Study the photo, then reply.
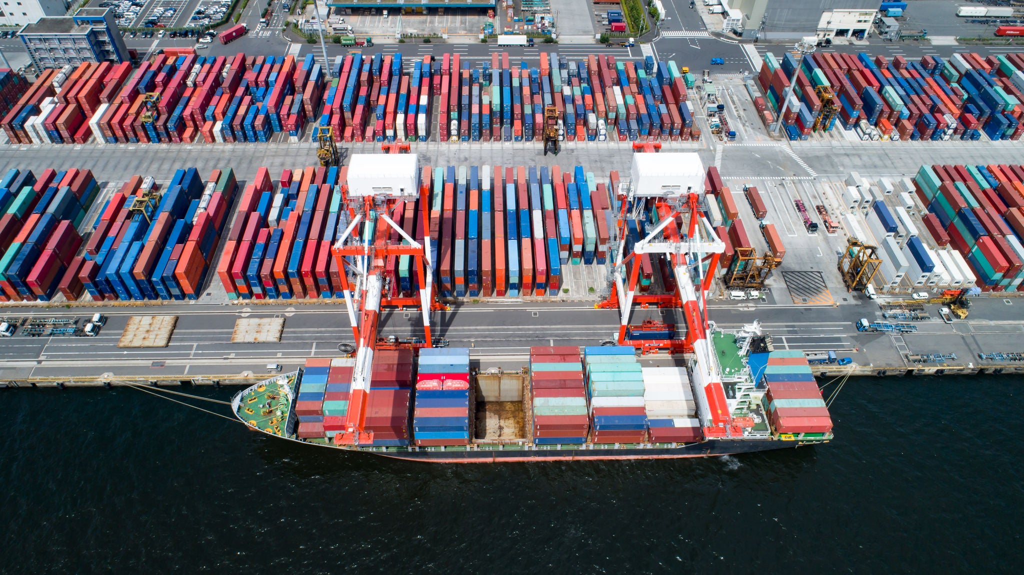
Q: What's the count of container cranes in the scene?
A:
2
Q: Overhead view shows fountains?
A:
No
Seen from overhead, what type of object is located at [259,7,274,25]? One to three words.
vehicle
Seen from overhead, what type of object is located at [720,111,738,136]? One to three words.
vehicle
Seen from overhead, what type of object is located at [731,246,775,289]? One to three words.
work vehicle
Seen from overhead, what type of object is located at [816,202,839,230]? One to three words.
truck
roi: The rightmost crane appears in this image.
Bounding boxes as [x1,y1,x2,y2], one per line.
[596,140,746,449]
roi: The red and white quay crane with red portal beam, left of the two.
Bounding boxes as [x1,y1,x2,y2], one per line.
[330,141,449,456]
